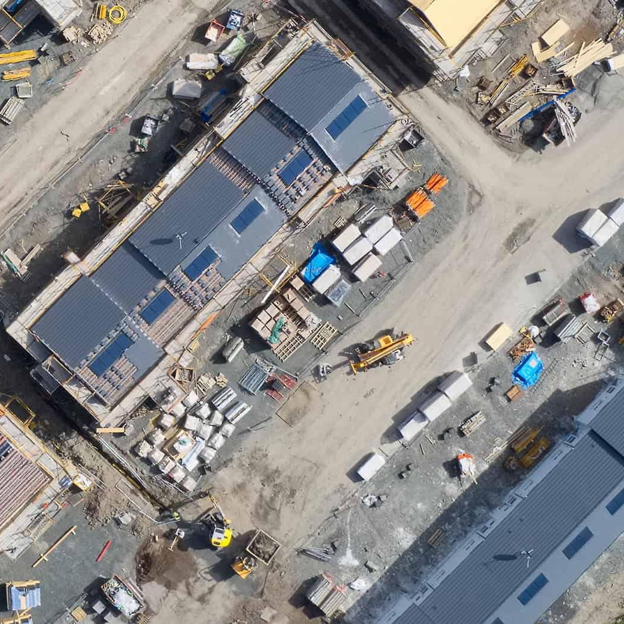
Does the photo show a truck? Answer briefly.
Yes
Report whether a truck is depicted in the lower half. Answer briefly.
Yes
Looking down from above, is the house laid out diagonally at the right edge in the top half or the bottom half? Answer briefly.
bottom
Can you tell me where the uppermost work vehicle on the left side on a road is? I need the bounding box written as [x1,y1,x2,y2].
[199,488,239,554]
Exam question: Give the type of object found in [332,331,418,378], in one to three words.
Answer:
work vehicle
